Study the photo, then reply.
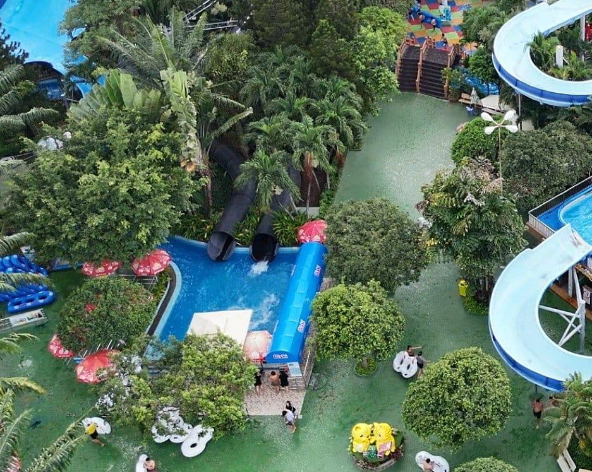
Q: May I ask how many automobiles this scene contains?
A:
0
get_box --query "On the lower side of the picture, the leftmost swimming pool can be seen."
[136,229,298,374]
